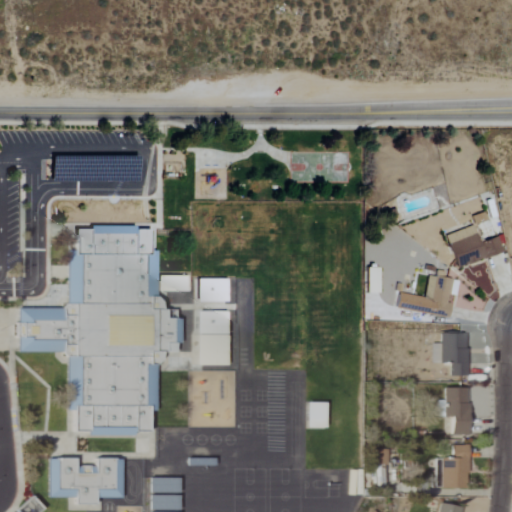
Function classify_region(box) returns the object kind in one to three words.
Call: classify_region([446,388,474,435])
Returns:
house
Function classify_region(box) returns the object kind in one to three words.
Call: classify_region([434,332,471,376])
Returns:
house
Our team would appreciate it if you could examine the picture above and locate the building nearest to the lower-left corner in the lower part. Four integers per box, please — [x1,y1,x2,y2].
[50,458,124,504]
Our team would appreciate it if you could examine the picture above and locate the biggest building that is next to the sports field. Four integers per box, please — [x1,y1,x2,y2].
[20,225,183,436]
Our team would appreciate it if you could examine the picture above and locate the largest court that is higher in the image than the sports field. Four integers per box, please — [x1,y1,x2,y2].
[291,152,353,183]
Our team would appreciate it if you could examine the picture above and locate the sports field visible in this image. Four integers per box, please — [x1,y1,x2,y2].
[194,201,362,469]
